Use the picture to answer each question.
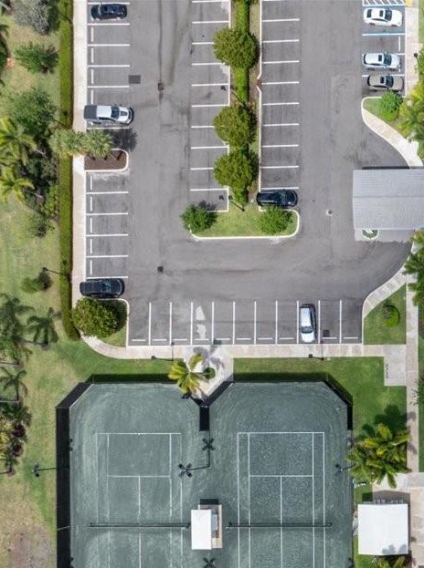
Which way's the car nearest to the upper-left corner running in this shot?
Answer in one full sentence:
In this picture, the car nearest to the upper-left corner is oriented from left to right.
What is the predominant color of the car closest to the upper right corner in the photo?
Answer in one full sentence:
From above, the car closest to the upper right corner appears white.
